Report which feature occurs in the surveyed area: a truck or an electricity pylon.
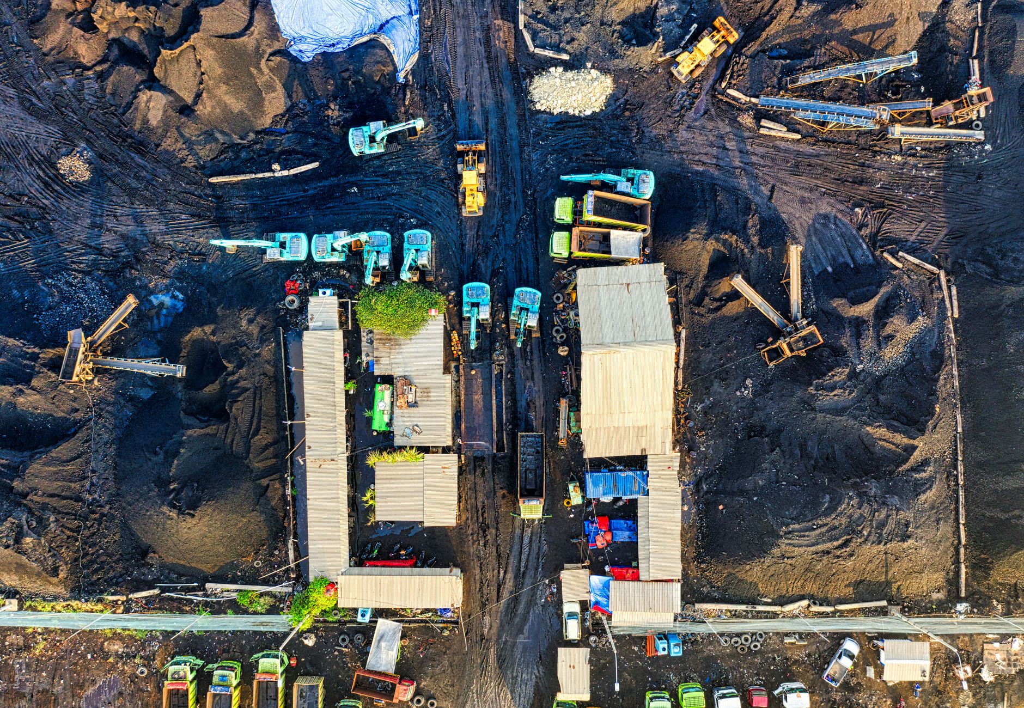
truck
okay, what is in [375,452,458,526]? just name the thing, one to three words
house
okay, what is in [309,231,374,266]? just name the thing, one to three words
work vehicle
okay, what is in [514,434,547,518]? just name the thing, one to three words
truck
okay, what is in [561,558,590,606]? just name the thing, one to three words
shed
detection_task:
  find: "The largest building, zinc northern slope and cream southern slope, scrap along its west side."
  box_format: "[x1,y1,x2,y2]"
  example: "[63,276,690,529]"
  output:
[575,263,676,457]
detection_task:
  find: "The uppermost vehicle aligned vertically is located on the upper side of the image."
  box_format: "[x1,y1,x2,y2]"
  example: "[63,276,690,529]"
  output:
[457,143,488,217]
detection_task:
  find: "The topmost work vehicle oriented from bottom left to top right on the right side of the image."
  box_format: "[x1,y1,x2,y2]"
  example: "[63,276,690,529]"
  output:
[671,15,731,89]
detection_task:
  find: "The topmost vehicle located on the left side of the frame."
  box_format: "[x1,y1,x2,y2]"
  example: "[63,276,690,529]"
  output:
[350,114,422,163]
